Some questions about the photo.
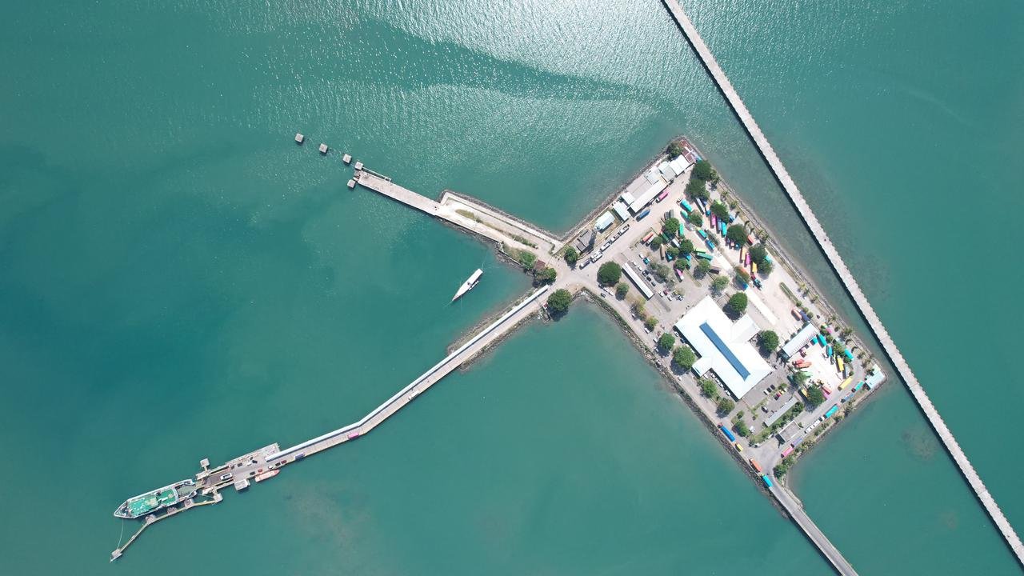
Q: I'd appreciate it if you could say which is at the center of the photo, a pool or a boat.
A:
boat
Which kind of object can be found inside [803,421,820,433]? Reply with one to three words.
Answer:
vehicle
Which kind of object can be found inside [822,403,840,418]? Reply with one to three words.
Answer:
vehicle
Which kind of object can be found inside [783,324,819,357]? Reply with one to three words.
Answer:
shed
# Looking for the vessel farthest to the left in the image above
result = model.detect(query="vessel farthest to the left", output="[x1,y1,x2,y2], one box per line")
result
[115,478,199,518]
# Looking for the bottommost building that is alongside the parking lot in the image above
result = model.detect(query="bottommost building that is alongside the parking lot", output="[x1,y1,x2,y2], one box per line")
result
[675,295,773,399]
